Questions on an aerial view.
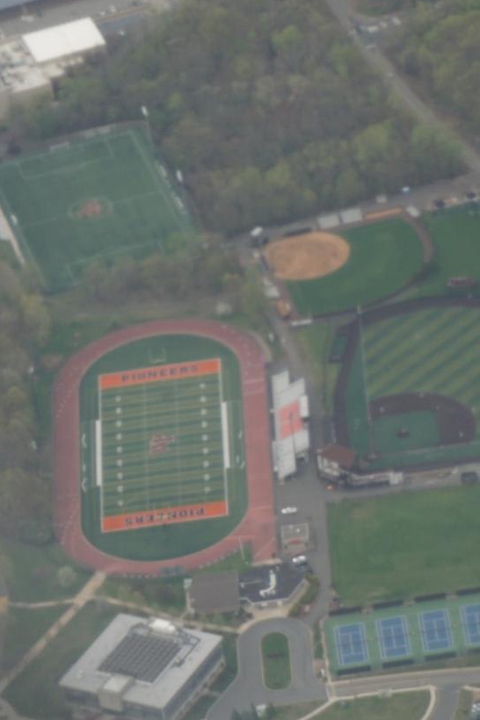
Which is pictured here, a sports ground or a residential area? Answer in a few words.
sports ground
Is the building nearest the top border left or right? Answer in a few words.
left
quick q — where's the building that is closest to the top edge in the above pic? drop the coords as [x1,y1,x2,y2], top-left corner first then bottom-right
[23,18,108,67]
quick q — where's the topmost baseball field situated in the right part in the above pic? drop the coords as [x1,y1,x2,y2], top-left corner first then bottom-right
[264,215,432,317]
